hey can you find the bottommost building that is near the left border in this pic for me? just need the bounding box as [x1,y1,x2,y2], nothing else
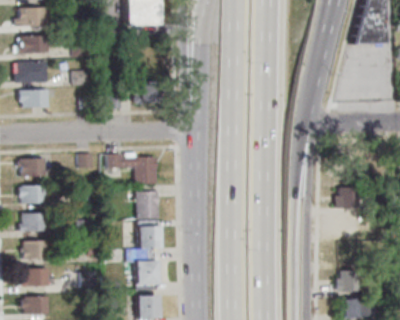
[18,296,50,316]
